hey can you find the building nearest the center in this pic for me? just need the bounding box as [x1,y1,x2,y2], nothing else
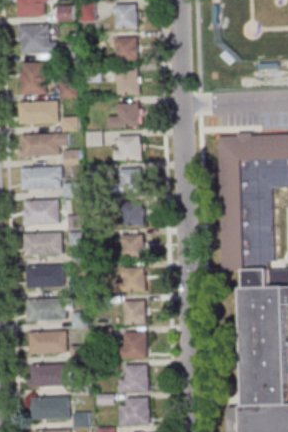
[120,202,146,226]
